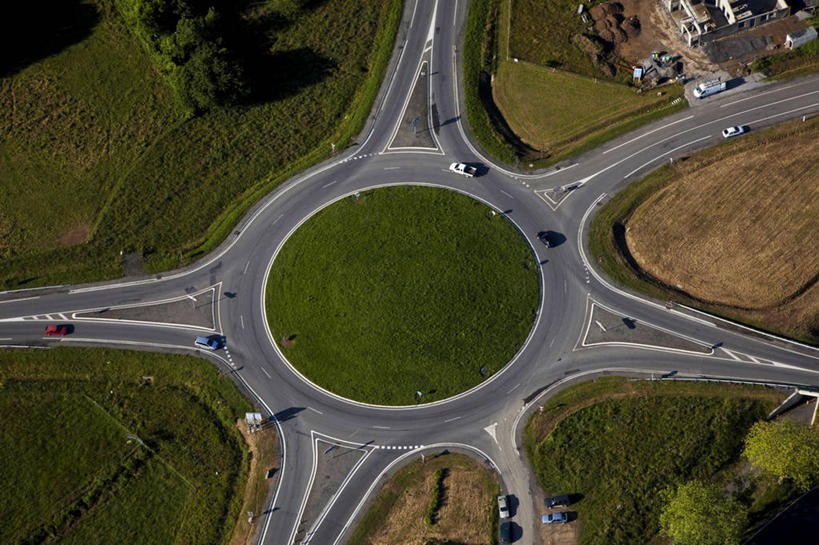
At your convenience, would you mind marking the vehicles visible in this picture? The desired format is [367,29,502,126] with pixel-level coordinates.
[498,495,510,520]
[449,162,477,178]
[537,231,556,250]
[499,522,512,545]
[194,335,219,351]
[44,325,68,337]
[541,512,569,526]
[543,494,571,510]
[695,78,728,99]
[721,125,745,138]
